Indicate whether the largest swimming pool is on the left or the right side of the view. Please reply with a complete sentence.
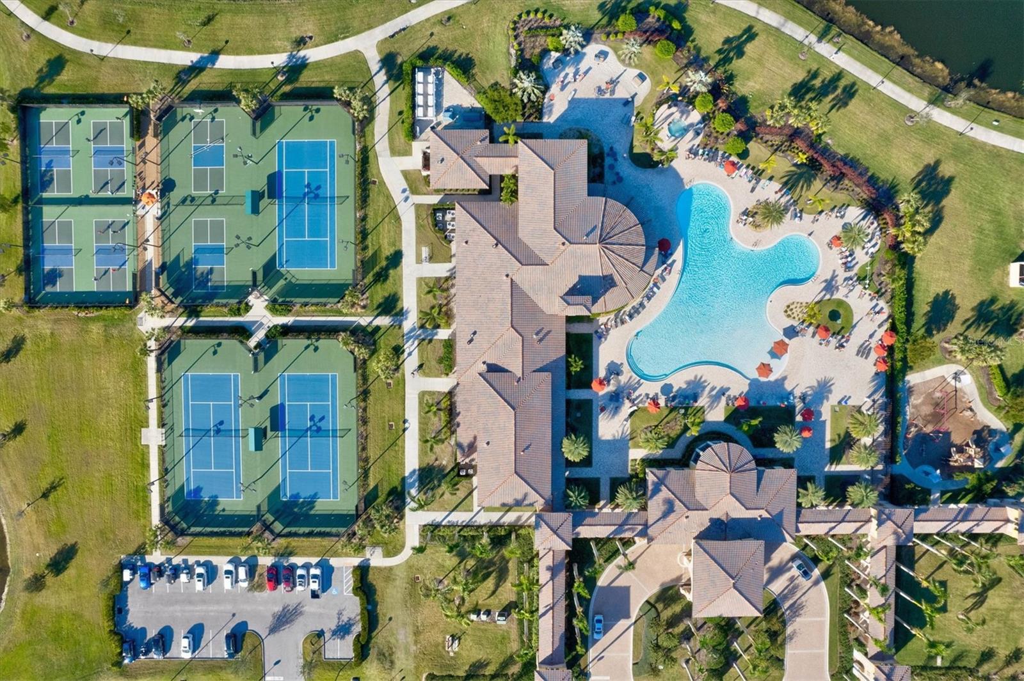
You can find the largest swimming pool on the right side of the picture.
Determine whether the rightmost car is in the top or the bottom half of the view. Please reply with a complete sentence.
Seen from above, the rightmost car lies in the bottom half of the view.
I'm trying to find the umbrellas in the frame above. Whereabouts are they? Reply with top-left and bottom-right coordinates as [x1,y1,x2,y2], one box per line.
[659,237,672,253]
[142,191,159,207]
[756,361,771,378]
[815,324,830,340]
[872,342,888,357]
[734,395,749,410]
[721,160,737,176]
[771,340,787,356]
[798,424,813,440]
[644,397,660,413]
[798,407,814,422]
[956,374,972,385]
[828,234,844,249]
[873,356,889,372]
[880,330,896,345]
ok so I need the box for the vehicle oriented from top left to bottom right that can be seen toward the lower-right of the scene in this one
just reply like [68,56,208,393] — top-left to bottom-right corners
[792,556,812,582]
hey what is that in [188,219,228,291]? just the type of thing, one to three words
sports court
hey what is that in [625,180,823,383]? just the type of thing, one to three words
swimming pool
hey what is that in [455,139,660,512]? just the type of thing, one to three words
building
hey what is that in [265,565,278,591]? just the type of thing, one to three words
vehicle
